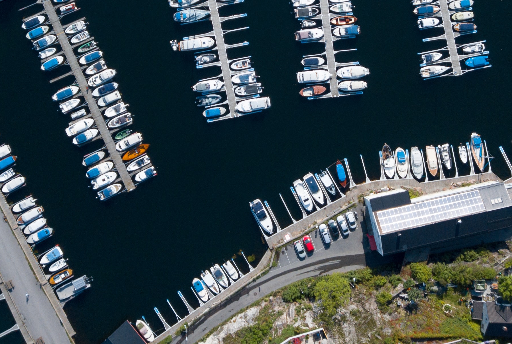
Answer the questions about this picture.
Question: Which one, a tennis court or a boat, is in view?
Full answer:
There is a boat in the scene.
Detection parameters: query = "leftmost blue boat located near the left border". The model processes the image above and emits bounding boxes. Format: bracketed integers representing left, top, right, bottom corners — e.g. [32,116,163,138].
[0,156,18,171]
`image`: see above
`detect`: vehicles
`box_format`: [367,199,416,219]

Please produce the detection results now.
[293,240,307,259]
[302,234,314,253]
[328,219,340,237]
[320,224,331,243]
[338,215,349,234]
[345,211,357,229]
